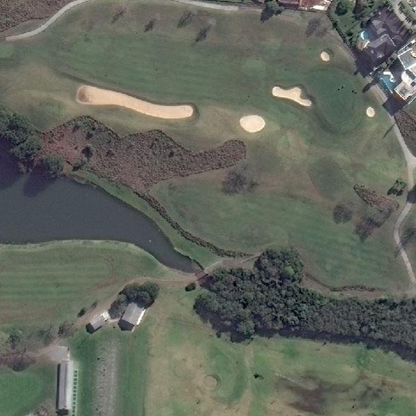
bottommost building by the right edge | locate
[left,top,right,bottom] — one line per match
[394,47,416,100]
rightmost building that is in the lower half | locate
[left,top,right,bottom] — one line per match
[122,303,146,325]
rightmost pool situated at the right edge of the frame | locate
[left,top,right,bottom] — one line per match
[377,74,398,92]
